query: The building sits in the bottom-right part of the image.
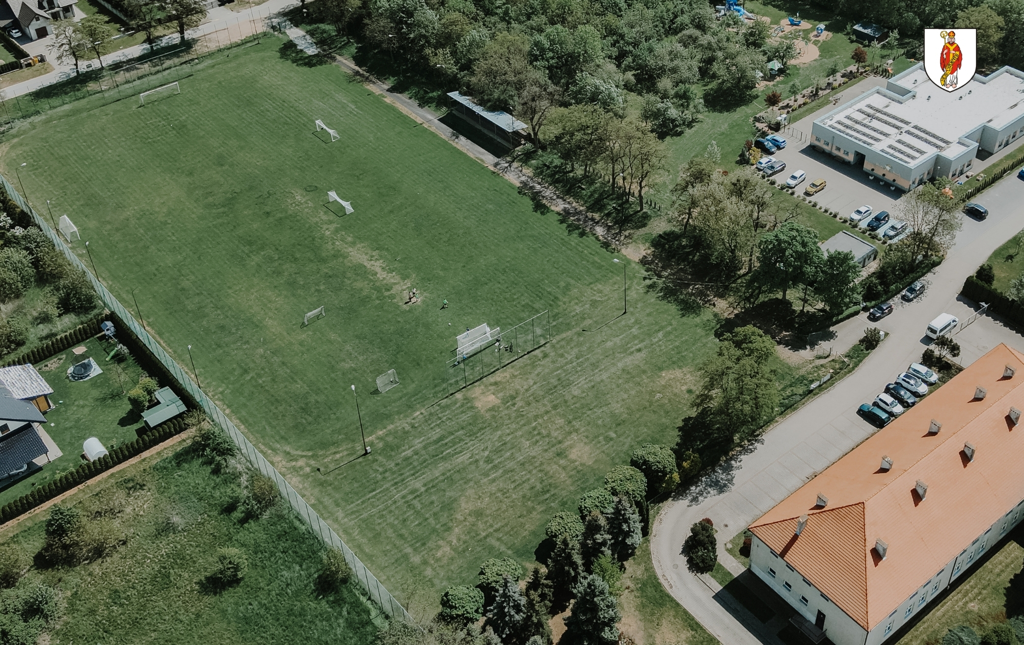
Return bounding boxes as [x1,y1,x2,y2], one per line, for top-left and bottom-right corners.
[749,341,1024,645]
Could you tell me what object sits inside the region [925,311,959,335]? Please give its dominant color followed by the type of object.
white vehicle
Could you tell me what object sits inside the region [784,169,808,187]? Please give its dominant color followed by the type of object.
white car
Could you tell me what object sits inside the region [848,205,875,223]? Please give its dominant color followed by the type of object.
white car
